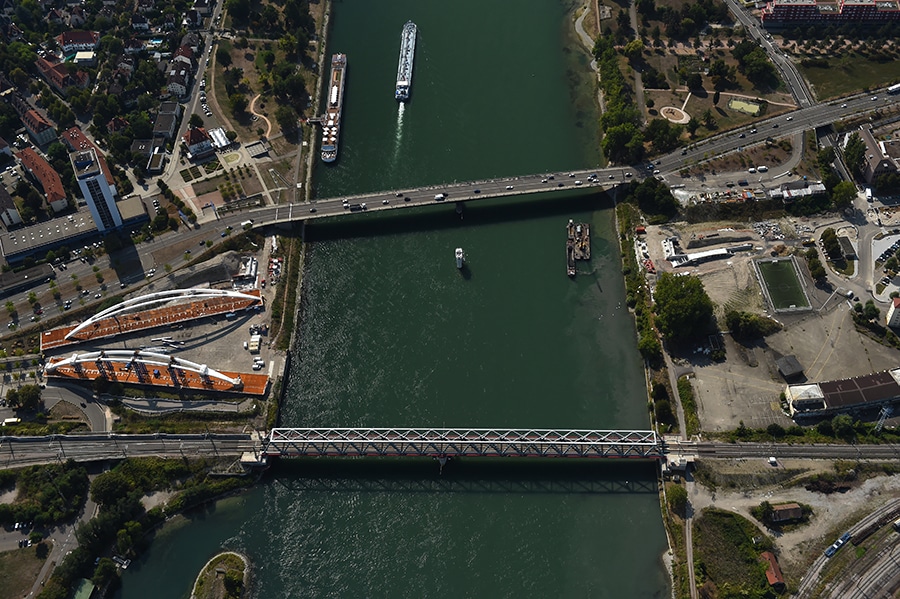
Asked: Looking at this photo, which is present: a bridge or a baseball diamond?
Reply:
bridge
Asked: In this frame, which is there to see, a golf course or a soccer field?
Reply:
soccer field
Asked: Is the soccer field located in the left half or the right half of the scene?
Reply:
right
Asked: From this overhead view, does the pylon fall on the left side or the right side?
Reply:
right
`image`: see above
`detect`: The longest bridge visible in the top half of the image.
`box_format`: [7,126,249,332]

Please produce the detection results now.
[244,160,659,230]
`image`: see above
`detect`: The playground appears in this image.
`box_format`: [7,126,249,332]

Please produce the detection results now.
[659,105,693,126]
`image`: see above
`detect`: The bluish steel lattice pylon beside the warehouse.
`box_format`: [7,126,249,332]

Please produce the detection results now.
[874,409,900,435]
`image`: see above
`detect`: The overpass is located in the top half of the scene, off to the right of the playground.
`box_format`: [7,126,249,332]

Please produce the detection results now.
[792,104,846,134]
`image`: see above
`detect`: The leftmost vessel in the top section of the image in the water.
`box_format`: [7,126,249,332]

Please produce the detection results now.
[323,57,350,166]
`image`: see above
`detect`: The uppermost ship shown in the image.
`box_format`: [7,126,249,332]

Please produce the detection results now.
[395,21,417,102]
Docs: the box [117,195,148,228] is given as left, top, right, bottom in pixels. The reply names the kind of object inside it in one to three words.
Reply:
building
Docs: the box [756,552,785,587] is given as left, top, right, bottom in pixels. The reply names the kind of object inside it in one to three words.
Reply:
building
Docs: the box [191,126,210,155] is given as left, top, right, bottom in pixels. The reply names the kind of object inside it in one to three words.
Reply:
house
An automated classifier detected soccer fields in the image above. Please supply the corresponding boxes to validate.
[753,255,811,313]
